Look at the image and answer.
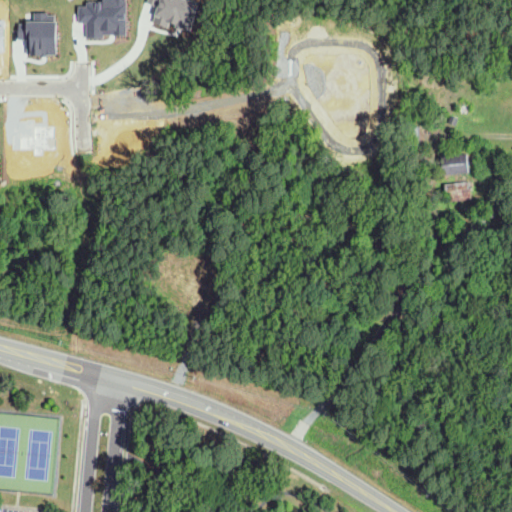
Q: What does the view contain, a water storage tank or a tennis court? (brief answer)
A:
tennis court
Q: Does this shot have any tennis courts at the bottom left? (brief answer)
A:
Yes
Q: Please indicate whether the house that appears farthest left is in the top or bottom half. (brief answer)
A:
top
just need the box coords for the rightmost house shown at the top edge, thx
[150,0,186,30]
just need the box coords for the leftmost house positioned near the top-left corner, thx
[16,12,56,56]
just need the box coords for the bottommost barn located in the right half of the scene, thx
[446,182,472,201]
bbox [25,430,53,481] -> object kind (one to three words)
tennis court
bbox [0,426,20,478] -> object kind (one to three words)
tennis court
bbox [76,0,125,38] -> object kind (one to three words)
house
